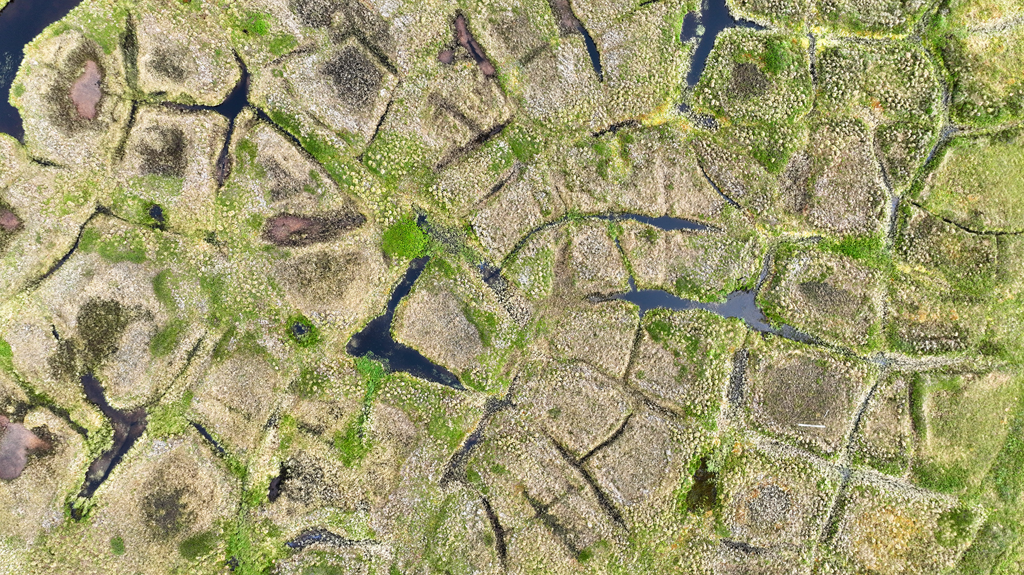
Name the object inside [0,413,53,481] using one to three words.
pond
